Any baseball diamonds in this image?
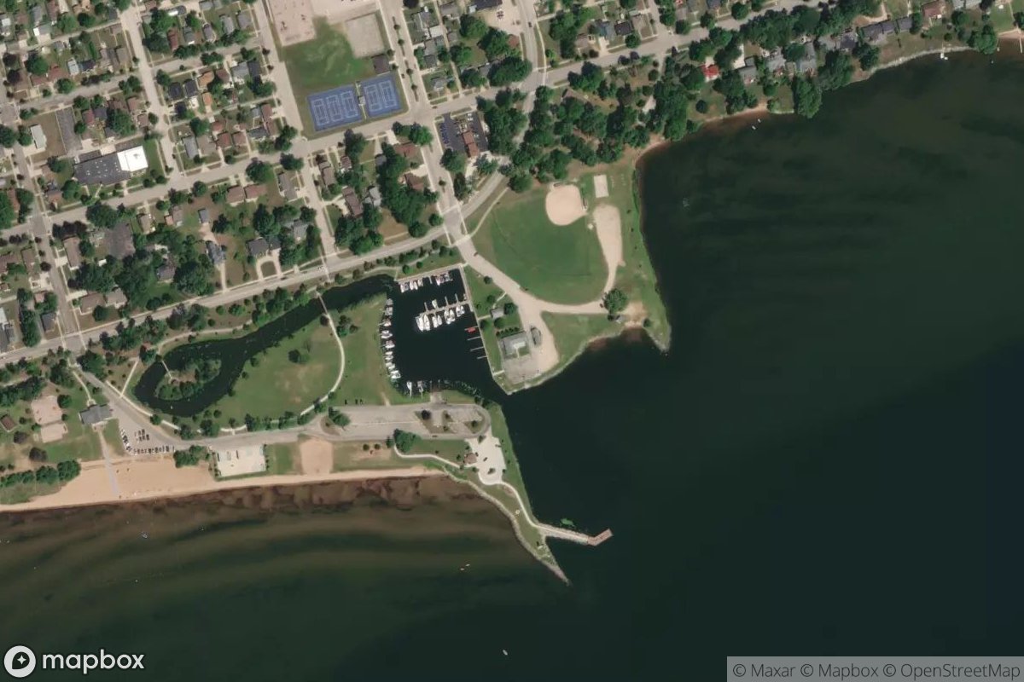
Yes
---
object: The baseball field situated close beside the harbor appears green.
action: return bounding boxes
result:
[483,181,607,303]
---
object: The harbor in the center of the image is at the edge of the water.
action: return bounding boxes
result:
[388,264,508,394]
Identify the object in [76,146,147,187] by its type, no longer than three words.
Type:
building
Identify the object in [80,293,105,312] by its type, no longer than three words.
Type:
house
